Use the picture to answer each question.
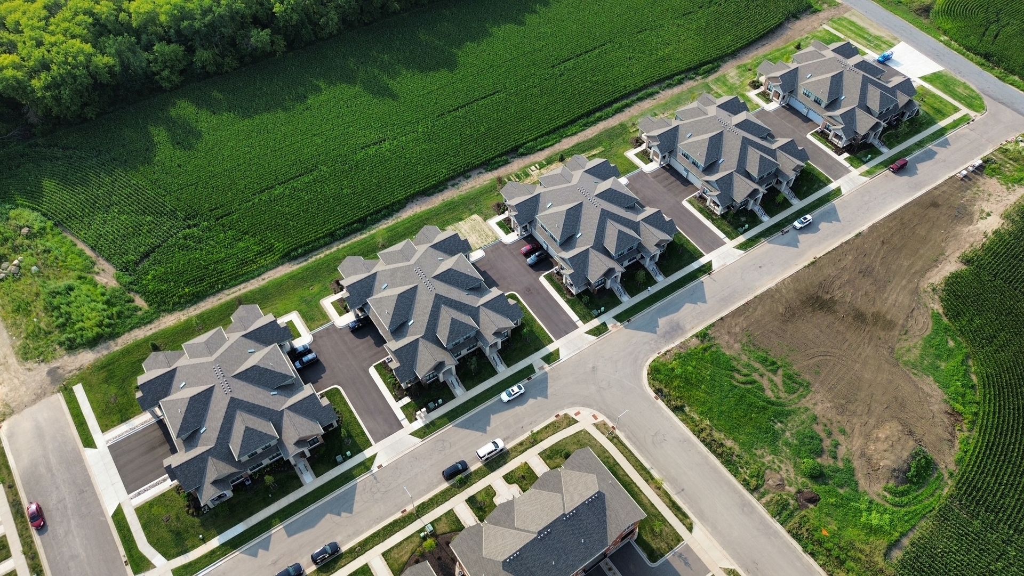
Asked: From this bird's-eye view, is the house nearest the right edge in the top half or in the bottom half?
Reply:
top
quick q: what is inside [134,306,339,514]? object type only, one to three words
house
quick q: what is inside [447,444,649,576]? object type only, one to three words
house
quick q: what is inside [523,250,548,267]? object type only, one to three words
car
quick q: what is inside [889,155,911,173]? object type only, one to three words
car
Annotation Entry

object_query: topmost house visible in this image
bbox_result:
[756,38,926,153]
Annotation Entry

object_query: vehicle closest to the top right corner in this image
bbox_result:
[874,45,898,64]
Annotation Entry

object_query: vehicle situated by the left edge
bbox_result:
[28,501,46,531]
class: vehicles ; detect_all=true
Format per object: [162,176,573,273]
[289,342,316,358]
[308,539,343,568]
[346,314,369,332]
[523,250,548,267]
[28,501,46,531]
[293,350,320,371]
[516,240,541,258]
[792,212,814,230]
[874,45,898,64]
[439,458,470,483]
[473,438,506,463]
[498,383,527,405]
[889,155,911,173]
